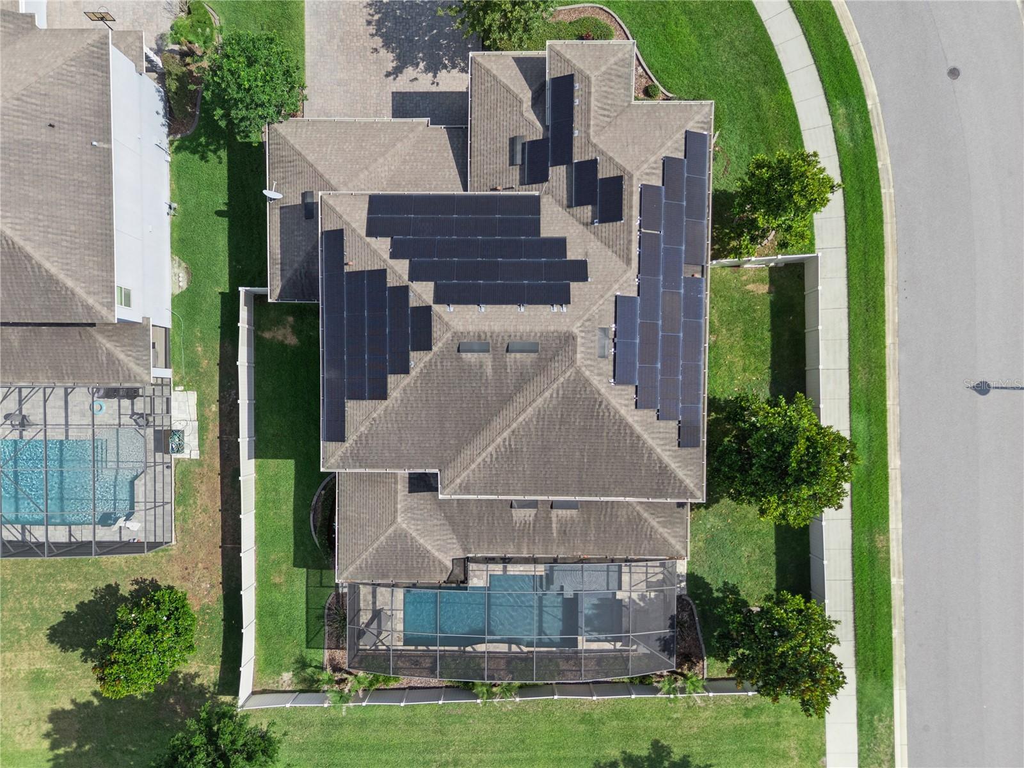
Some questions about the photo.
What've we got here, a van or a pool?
pool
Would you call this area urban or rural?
urban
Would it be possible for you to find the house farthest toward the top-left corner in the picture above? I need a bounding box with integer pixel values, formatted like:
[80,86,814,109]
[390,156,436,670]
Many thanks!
[0,0,172,386]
